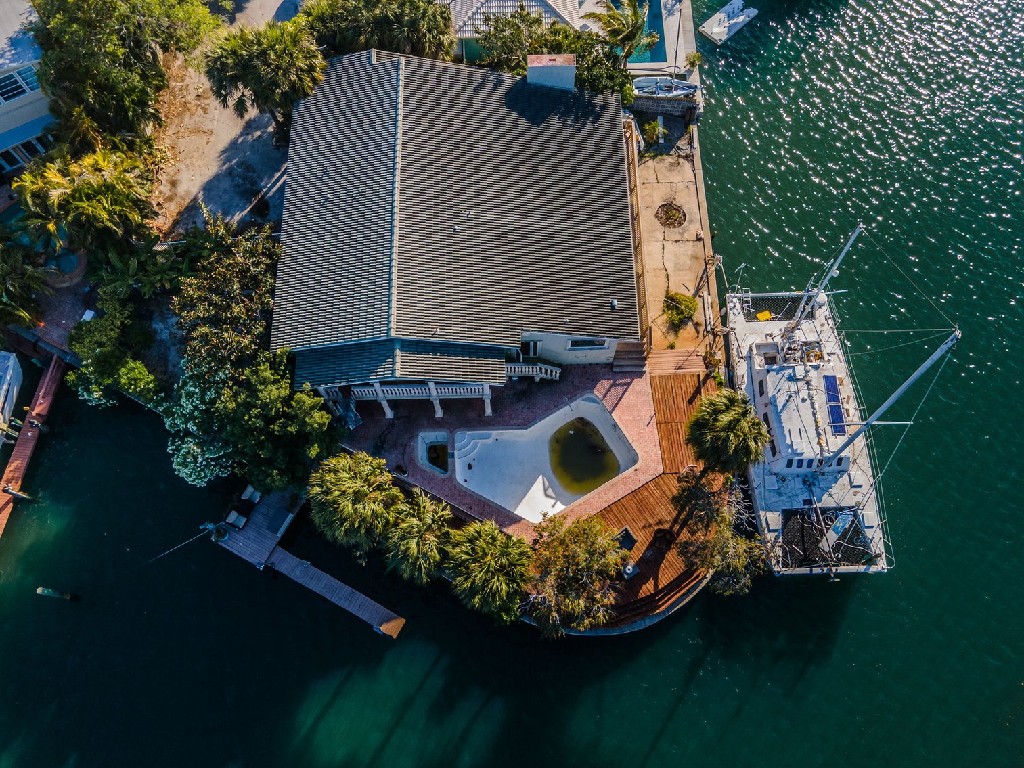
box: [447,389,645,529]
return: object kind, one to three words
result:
swimming pool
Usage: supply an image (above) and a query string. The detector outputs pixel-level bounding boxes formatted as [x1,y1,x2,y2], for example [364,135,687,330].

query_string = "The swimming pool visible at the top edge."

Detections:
[613,0,671,65]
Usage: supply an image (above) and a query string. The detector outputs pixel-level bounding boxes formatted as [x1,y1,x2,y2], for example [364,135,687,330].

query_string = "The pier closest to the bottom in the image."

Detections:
[215,483,409,641]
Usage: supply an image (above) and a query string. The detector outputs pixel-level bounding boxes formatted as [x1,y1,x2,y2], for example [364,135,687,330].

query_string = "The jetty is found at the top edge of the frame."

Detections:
[697,0,758,49]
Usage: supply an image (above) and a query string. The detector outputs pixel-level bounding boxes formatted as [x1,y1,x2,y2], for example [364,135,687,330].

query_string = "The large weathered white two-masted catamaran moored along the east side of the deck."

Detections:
[720,213,969,583]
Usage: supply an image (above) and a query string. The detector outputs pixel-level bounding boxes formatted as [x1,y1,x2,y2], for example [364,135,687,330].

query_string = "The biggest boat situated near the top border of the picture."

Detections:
[634,9,702,97]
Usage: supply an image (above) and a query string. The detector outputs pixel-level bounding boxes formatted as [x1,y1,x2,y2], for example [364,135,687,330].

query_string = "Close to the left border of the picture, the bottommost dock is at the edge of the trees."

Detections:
[0,358,68,559]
